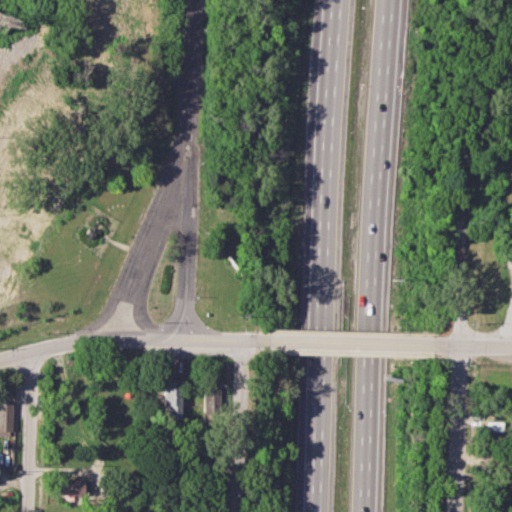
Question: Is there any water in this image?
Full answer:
No, there is no water in the image.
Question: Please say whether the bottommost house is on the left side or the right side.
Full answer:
The bottommost house appears in the left half of the scene.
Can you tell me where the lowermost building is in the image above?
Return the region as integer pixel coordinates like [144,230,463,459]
[64,476,88,503]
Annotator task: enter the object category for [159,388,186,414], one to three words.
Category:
house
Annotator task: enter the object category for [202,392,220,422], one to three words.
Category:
house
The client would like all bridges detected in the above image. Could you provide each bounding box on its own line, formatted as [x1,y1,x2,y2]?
[270,330,438,358]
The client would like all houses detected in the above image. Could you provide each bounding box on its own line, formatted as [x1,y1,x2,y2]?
[486,420,506,432]
[159,388,186,414]
[0,404,16,438]
[64,476,88,503]
[202,392,220,422]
